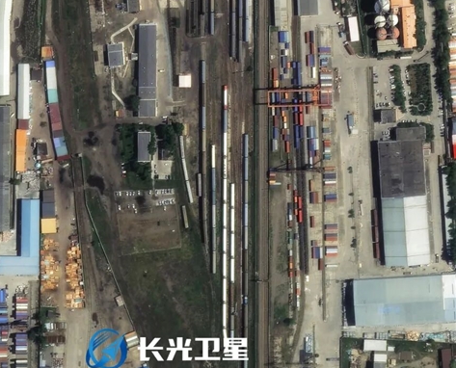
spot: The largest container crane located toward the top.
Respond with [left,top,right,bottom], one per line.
[267,85,330,106]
